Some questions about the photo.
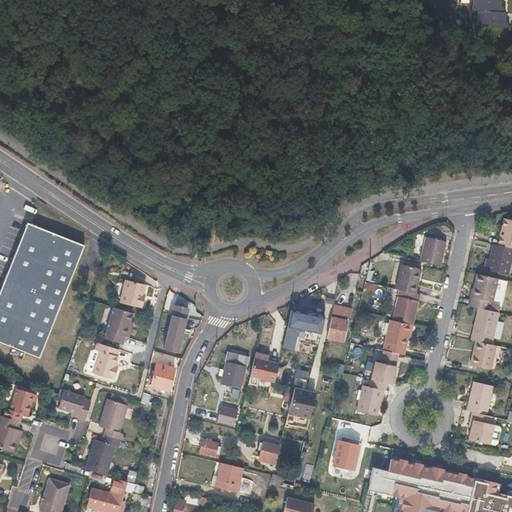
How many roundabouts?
2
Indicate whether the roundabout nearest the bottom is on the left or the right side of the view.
right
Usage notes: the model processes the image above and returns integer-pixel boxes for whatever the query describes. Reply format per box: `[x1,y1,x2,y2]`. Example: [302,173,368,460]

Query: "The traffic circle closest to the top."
[203,260,262,318]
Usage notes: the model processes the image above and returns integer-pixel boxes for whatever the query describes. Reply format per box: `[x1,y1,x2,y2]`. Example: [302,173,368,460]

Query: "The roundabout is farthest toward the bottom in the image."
[390,382,454,448]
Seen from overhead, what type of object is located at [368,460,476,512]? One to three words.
building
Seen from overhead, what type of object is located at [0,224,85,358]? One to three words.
building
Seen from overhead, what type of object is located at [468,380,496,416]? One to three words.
house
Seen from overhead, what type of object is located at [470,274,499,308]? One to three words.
house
